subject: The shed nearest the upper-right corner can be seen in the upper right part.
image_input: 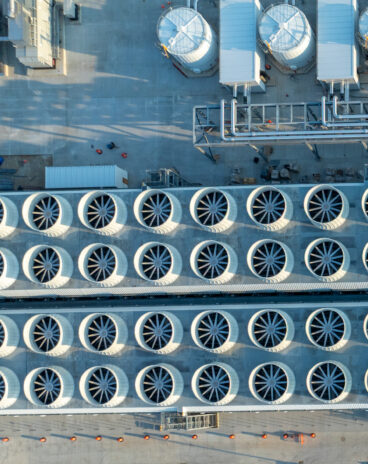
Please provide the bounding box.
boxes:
[317,0,358,88]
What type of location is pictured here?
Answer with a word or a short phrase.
industrial area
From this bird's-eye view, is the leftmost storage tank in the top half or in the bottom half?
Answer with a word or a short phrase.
top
